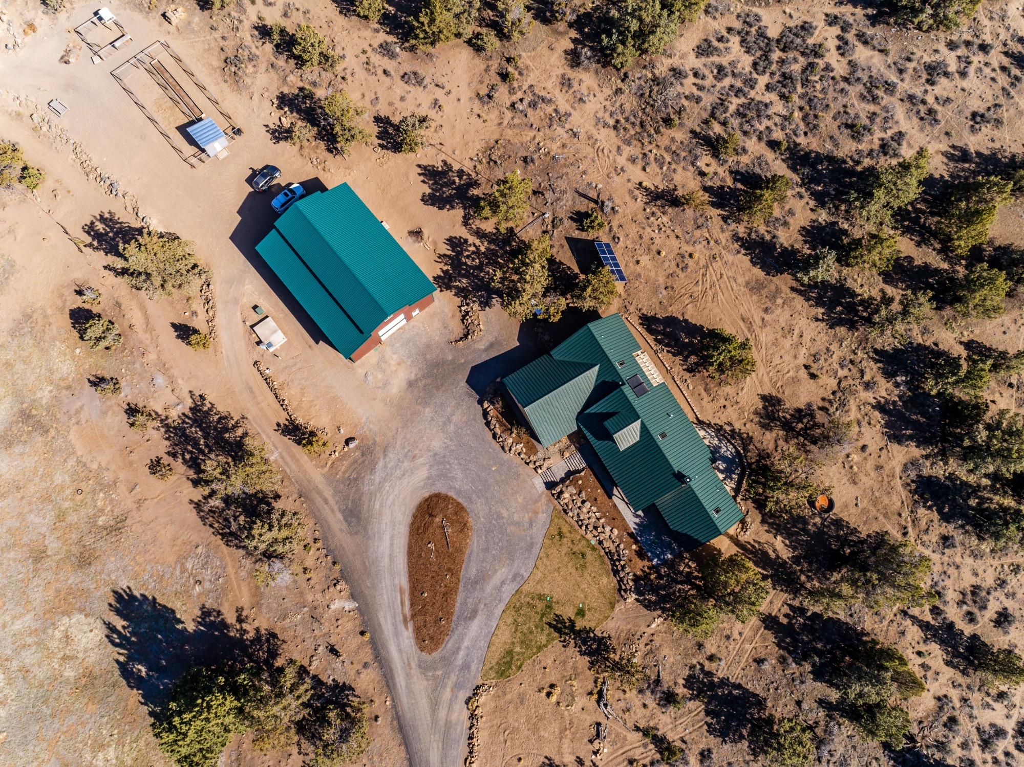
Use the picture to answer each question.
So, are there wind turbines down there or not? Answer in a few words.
Yes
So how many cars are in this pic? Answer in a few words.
two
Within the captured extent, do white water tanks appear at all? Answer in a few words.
No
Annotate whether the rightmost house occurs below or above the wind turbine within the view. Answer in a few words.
below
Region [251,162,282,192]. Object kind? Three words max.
car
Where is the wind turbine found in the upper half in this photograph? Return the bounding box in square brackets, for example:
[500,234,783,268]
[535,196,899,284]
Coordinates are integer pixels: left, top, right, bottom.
[525,159,571,236]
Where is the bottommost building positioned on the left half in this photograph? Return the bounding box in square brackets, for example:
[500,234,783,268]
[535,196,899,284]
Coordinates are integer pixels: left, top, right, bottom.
[256,184,436,363]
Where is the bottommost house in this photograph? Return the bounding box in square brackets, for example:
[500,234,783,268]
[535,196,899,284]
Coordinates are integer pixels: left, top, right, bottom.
[503,313,744,552]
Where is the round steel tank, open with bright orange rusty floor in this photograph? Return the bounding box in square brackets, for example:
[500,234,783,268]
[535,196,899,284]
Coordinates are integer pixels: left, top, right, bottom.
[810,493,836,525]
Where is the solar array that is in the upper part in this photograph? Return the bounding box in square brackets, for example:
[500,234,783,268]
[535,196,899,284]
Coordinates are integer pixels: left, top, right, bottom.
[595,242,627,282]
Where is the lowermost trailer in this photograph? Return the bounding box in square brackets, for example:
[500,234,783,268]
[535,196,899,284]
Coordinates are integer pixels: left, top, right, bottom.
[252,316,289,355]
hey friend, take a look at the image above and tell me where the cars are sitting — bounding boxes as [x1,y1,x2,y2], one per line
[251,162,282,192]
[271,181,306,212]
